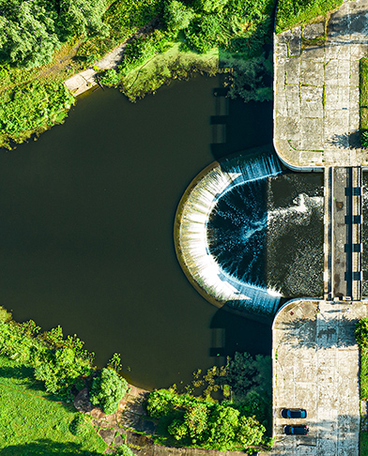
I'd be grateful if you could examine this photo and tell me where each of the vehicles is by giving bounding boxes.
[284,424,309,436]
[282,407,306,419]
